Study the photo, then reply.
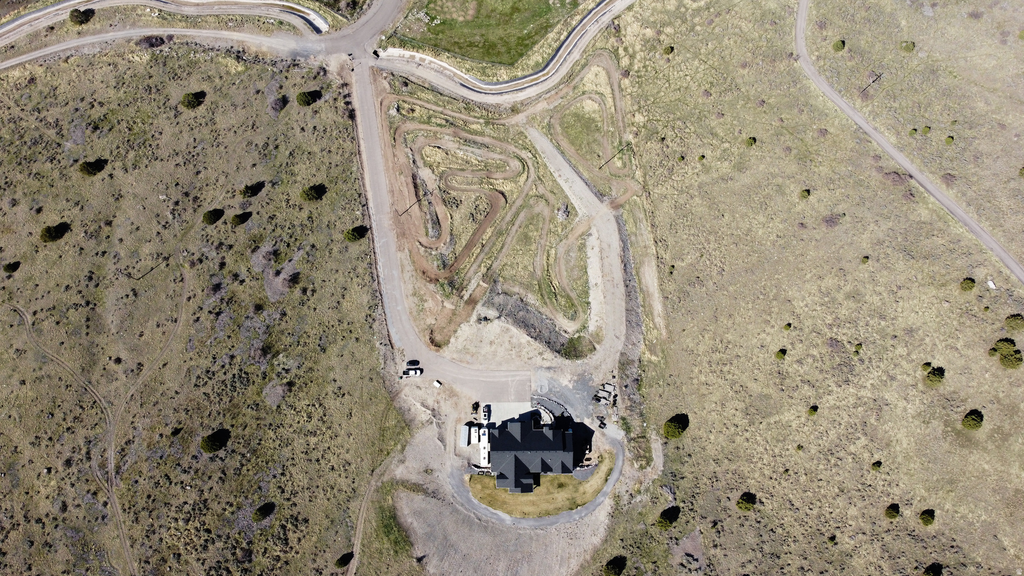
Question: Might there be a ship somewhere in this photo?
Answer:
No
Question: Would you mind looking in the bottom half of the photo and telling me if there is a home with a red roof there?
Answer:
No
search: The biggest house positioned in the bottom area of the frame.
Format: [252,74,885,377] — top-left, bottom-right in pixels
[490,421,574,493]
